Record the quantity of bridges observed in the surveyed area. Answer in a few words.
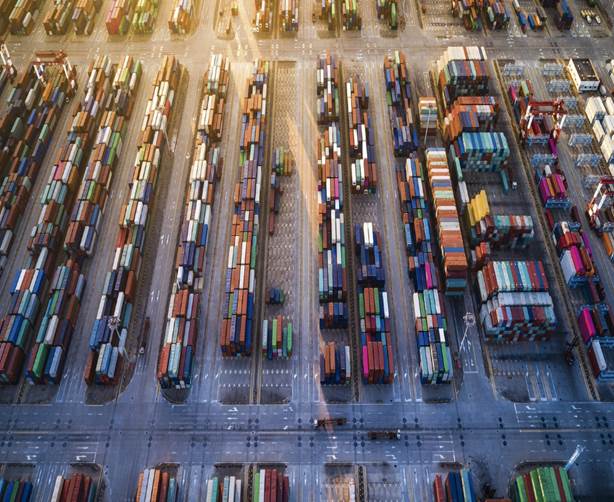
zero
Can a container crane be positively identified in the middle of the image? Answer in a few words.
No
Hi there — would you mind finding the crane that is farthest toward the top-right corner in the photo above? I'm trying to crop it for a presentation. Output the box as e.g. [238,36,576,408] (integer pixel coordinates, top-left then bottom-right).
[519,98,574,144]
